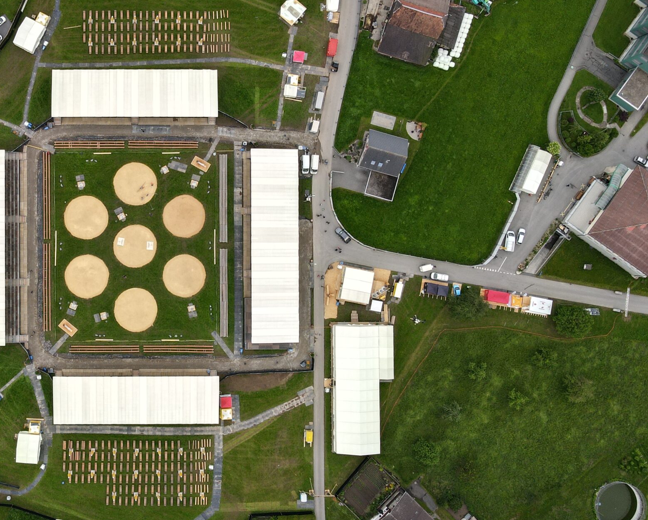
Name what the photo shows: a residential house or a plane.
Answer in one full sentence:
Of the two, only a residential house appears.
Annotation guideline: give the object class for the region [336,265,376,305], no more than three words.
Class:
tent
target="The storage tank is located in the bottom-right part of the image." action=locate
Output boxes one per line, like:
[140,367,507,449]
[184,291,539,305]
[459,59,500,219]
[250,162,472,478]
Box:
[593,480,648,520]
